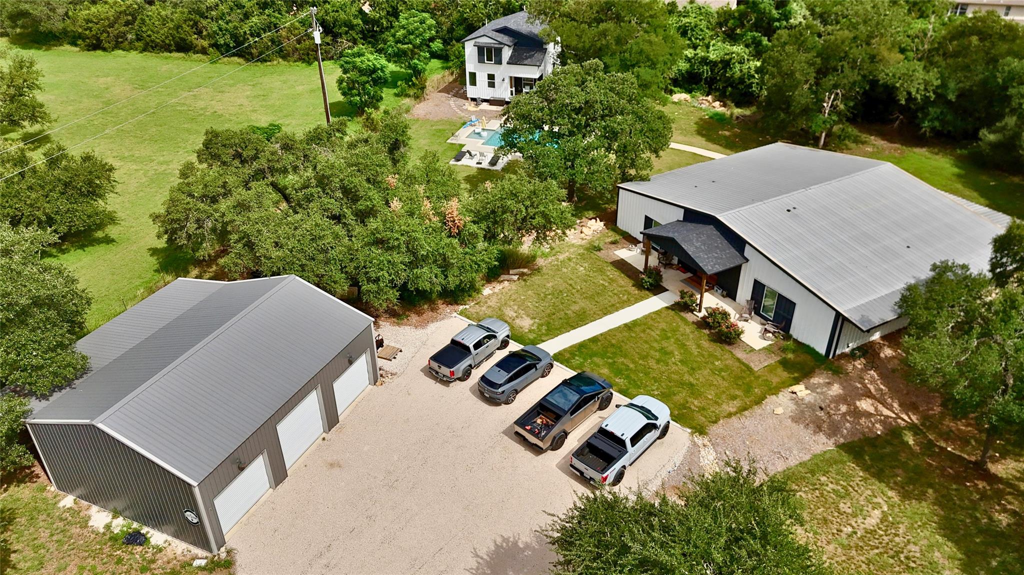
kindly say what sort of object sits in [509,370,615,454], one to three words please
truck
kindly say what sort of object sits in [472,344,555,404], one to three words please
car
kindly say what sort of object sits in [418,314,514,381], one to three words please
truck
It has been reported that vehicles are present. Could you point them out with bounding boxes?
[418,314,514,381]
[472,344,555,404]
[564,394,676,489]
[509,370,615,454]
